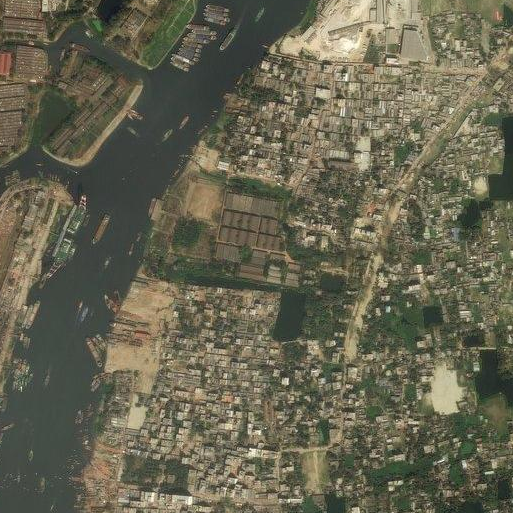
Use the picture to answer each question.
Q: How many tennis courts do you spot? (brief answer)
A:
0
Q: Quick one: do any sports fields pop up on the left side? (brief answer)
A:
No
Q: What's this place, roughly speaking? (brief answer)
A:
residential area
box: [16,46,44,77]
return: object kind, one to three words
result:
building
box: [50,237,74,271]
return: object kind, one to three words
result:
ship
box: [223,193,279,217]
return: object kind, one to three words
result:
building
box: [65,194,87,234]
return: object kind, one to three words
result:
ship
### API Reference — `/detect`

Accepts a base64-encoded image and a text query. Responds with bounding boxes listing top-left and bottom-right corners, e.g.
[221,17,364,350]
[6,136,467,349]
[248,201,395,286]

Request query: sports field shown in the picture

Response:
[303,449,329,494]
